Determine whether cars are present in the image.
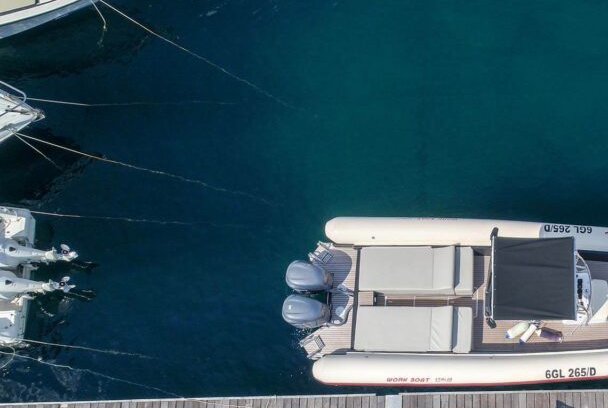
No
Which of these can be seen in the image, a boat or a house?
boat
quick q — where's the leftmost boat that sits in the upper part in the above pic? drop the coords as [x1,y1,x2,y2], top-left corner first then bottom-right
[0,81,47,154]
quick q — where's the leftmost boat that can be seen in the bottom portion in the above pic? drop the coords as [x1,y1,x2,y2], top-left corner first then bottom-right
[0,210,73,347]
